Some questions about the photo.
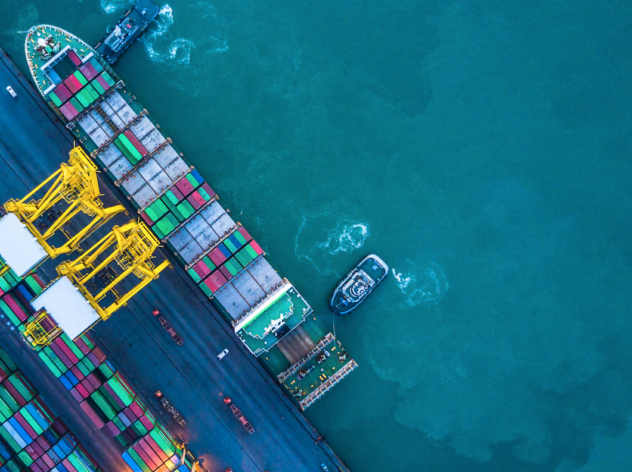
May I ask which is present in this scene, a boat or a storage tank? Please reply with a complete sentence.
This aerial view contains a boat.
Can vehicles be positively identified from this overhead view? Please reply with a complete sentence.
Yes, I can see a vehicle in this picture.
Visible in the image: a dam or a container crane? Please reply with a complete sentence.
Of the two, only a container crane appears.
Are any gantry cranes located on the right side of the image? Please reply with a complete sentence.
No, I can find no gantry crane on the right side of the image.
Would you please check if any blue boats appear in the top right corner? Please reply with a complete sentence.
No, there is no blue boat in the top right corner.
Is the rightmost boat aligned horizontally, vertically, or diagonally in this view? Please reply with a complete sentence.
The rightmost boat is oriented diagonally.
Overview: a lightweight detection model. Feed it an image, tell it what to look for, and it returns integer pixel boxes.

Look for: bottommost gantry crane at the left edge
[15,208,174,352]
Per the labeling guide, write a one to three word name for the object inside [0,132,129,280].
container crane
